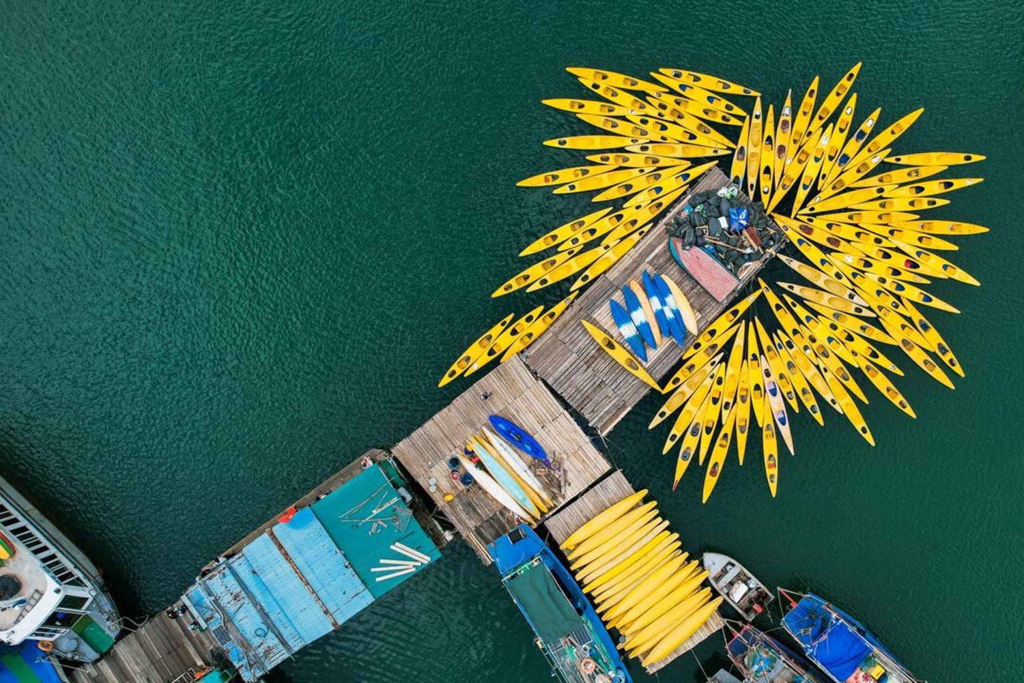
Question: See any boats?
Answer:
Yes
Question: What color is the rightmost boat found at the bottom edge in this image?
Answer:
blue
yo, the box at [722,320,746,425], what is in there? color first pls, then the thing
yellow boat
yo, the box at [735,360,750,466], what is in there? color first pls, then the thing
yellow boat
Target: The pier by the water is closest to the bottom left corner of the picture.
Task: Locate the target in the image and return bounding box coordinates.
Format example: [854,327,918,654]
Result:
[68,447,444,683]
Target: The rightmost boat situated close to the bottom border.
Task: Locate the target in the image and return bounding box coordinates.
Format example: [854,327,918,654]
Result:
[778,587,920,683]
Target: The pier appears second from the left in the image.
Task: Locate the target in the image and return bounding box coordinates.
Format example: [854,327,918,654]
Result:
[392,356,610,565]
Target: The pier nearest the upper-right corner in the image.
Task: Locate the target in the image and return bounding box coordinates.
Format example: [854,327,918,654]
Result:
[525,168,787,435]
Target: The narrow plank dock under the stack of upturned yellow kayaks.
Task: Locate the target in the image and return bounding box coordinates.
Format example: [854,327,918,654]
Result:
[546,470,723,673]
